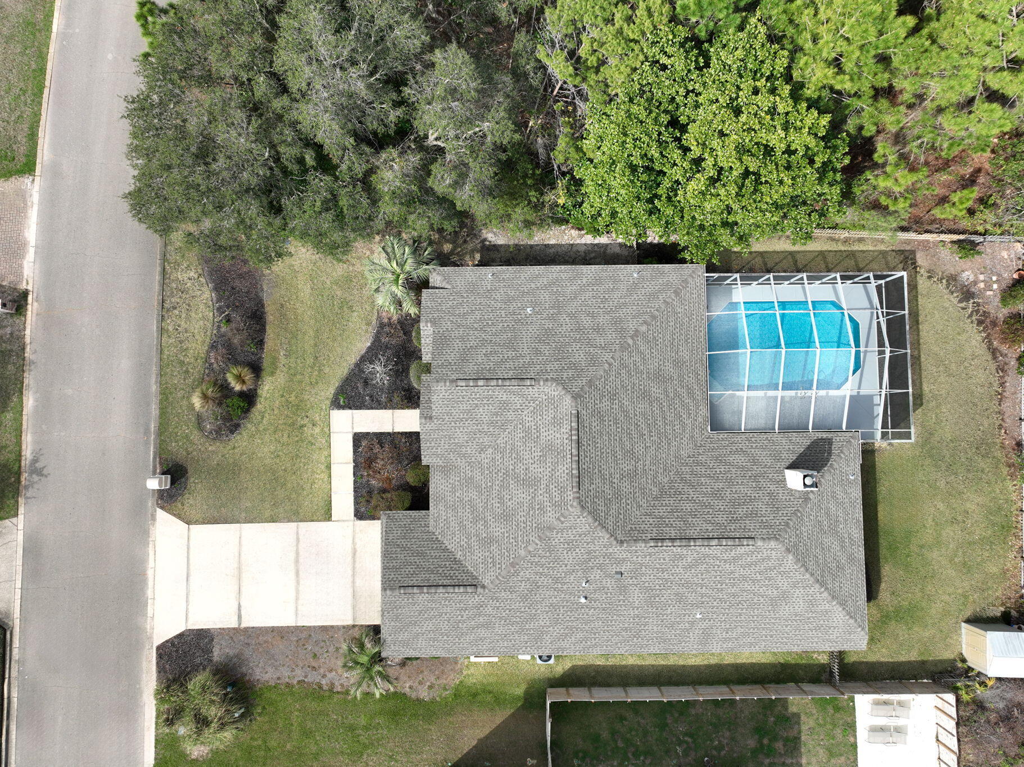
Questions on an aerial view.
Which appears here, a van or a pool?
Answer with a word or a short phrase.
pool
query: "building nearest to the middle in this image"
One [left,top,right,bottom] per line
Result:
[382,262,869,657]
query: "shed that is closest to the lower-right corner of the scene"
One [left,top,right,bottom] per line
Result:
[962,621,1024,677]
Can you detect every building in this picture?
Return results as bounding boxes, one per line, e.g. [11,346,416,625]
[962,621,1024,677]
[382,262,869,657]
